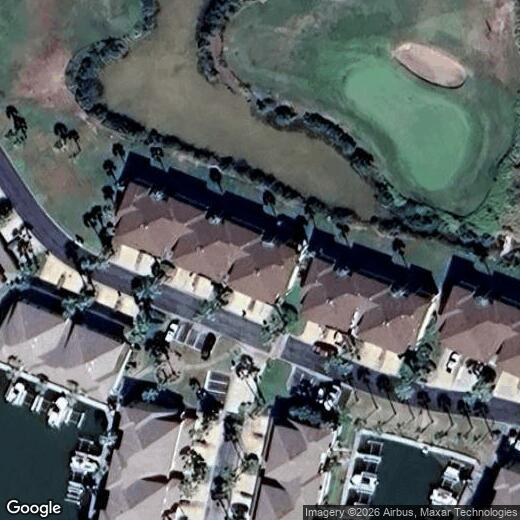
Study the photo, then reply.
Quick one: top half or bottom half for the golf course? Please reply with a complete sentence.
The top half of the photo is where the golf course is.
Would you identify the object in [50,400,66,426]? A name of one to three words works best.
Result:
boat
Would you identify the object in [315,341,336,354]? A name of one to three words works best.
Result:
vehicle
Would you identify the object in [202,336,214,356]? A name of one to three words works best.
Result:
vehicle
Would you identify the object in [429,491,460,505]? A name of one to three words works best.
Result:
boat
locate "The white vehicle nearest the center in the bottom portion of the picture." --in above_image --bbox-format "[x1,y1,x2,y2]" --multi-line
[165,322,178,341]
